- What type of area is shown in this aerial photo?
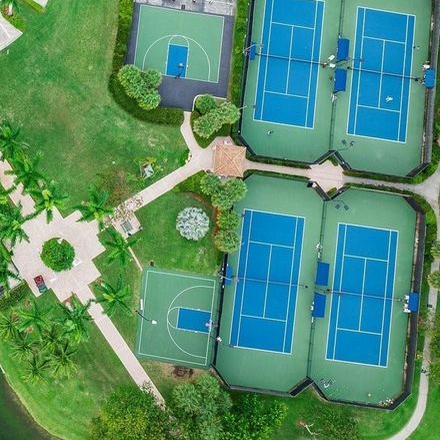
sports ground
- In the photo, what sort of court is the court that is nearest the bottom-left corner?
basketball court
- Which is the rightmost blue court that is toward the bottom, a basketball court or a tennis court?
tennis court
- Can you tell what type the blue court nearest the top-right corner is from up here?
tennis court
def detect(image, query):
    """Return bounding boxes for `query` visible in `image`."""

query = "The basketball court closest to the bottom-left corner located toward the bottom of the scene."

[135,268,224,369]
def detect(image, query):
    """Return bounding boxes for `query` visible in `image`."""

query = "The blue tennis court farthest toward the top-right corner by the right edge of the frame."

[347,7,419,143]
